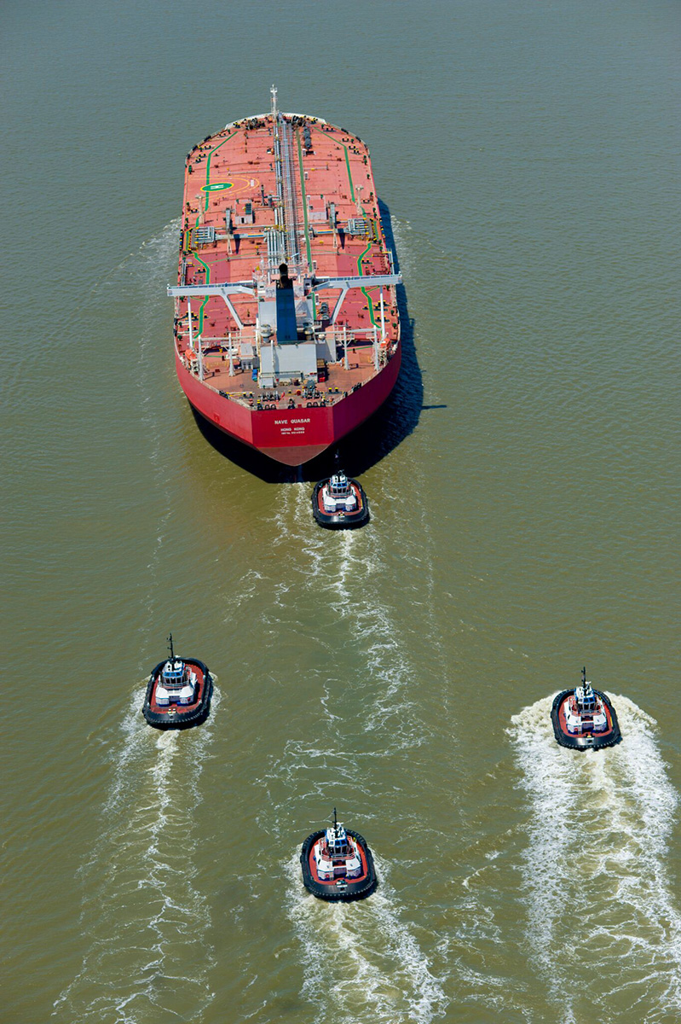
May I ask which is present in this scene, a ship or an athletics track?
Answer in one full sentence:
There is a ship in the scene.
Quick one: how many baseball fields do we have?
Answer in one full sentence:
The photo contains no baseball fields.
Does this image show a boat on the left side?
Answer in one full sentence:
Yes, looking on the left side, one can make out a boat.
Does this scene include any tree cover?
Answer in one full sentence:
No, there is no tree cover in the image.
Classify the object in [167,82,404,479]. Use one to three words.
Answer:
ship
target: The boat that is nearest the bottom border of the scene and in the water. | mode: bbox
[302,804,377,904]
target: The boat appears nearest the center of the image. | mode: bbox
[313,452,369,529]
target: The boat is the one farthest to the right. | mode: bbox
[552,662,624,750]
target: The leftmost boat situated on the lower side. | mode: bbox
[144,636,210,730]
